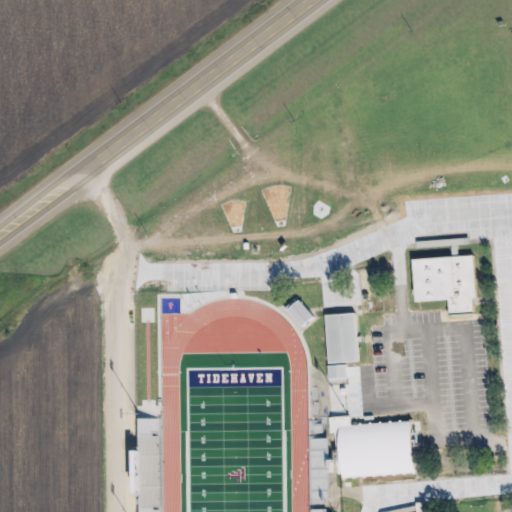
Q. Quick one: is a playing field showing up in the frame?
Yes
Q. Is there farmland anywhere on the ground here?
Yes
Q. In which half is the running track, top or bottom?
bottom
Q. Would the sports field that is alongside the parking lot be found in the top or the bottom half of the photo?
bottom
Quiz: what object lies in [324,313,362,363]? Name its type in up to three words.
barn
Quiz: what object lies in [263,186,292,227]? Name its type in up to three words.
sports field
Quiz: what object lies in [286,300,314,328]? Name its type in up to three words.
building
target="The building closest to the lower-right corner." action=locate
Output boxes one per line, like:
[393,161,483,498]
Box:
[338,420,420,482]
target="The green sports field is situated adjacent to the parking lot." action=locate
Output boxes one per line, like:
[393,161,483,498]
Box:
[180,354,292,512]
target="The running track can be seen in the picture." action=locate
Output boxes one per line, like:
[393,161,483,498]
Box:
[162,298,309,512]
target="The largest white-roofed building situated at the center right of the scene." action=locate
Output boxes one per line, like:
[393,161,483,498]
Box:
[412,255,476,314]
